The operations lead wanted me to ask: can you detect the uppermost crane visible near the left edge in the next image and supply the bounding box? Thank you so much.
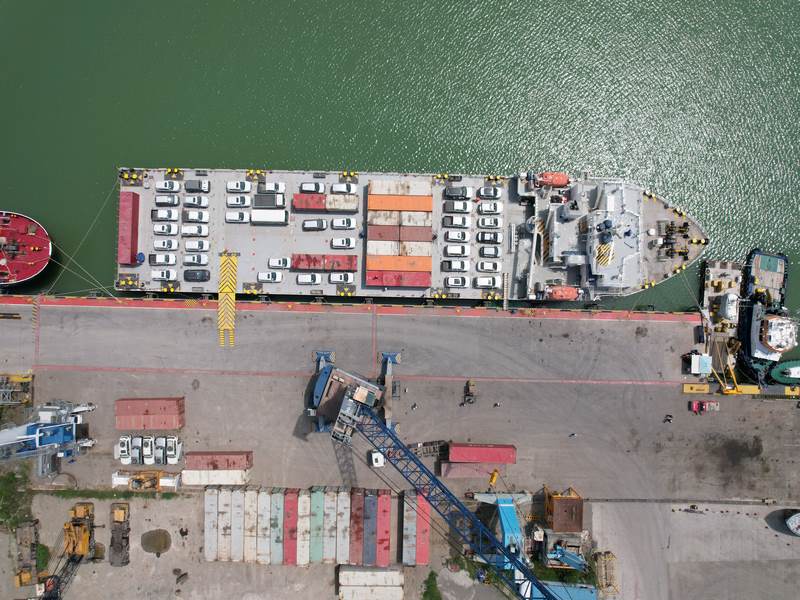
[0,399,101,477]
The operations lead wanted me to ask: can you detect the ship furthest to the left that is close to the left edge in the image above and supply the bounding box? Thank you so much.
[0,212,61,283]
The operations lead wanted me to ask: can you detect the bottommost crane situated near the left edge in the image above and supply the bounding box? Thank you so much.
[17,501,109,600]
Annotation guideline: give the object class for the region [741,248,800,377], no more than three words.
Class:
boat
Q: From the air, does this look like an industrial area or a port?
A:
port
